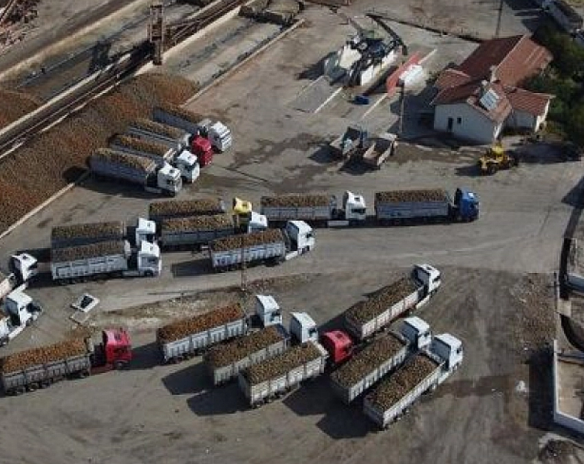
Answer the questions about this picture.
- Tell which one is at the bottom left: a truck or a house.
truck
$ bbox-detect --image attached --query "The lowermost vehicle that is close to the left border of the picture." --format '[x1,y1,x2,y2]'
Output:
[1,326,131,393]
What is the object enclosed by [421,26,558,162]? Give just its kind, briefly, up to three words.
house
